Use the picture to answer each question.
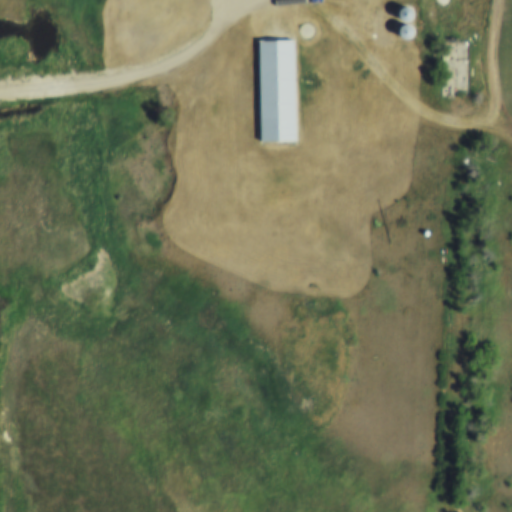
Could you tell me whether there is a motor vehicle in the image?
No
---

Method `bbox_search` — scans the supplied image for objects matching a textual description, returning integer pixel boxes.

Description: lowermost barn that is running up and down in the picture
[258,39,298,141]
